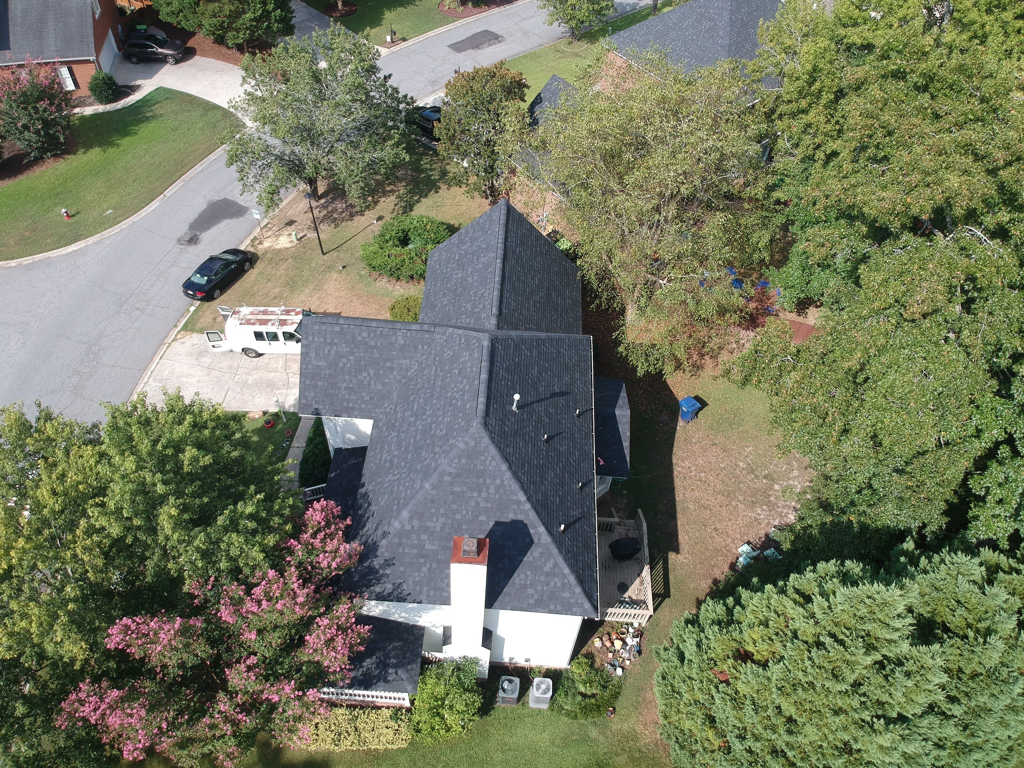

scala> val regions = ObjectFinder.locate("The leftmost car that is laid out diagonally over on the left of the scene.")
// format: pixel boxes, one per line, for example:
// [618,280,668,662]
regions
[183,246,253,302]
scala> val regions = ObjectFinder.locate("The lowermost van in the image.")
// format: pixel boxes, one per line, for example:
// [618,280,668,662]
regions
[205,303,306,358]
